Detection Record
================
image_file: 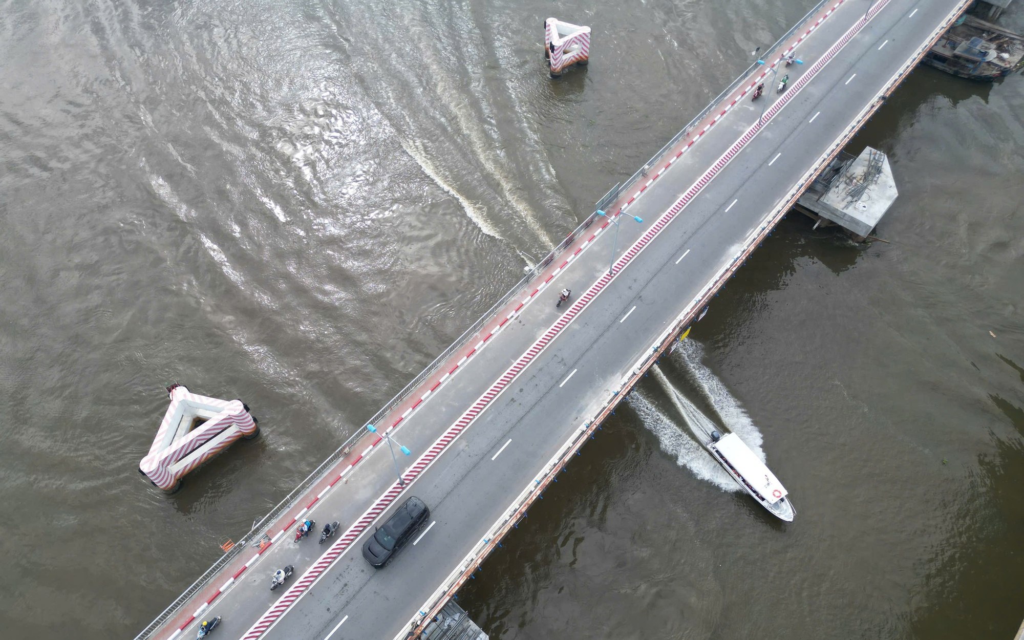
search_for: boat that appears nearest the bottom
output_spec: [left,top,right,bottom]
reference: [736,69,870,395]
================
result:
[707,430,799,524]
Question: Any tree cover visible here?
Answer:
No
